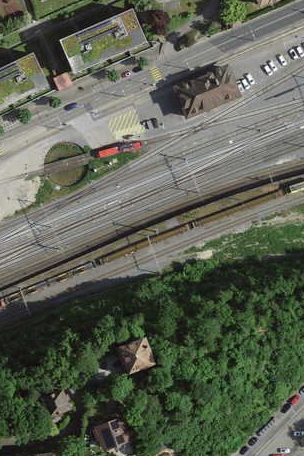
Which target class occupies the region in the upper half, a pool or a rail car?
rail car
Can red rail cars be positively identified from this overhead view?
Yes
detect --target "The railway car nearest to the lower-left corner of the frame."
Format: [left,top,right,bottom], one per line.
[99,246,129,266]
